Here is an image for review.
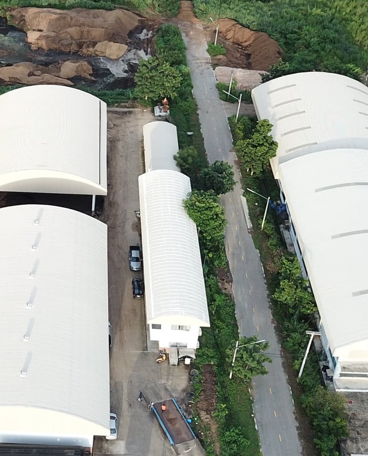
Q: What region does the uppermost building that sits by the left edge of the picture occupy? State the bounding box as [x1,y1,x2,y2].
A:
[0,80,108,214]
